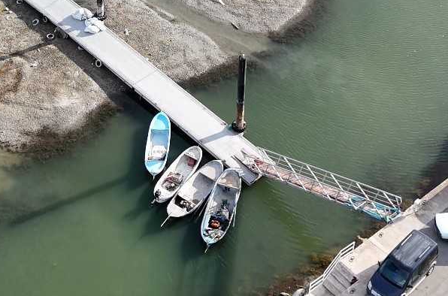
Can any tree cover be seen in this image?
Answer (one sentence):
No, tree cover can't be seen anywhere here.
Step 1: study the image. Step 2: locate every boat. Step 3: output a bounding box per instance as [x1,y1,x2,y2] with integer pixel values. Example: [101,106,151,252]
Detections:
[153,145,203,212]
[166,159,225,224]
[140,110,176,186]
[202,167,245,256]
